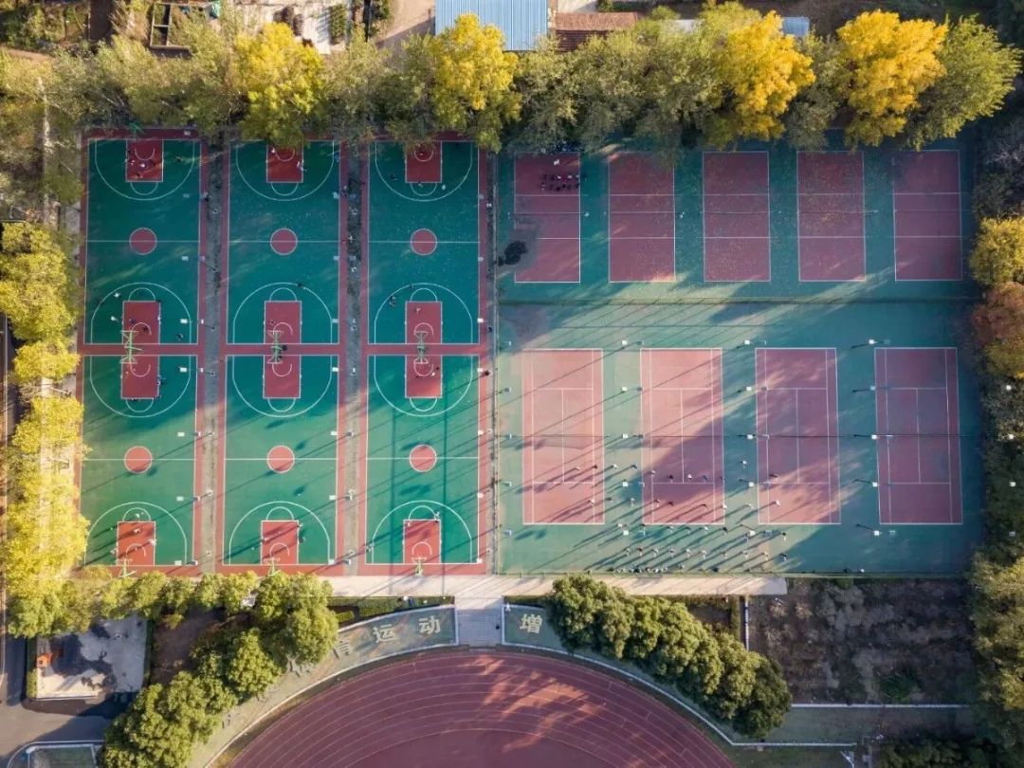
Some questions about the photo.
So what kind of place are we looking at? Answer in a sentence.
It's a sports ground.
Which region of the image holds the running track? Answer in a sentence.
The running track sits in the bottom section of the image.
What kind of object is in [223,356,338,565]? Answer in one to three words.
basketball court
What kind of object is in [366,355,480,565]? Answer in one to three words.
basketball court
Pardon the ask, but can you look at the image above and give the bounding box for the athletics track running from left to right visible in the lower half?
[231,654,732,768]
